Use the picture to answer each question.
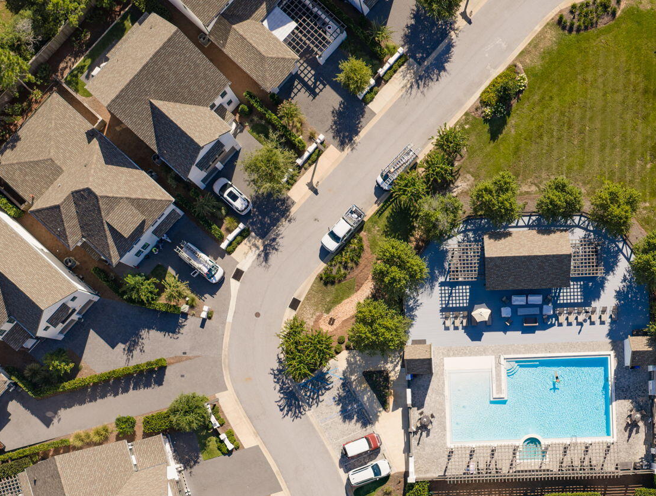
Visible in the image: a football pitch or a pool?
pool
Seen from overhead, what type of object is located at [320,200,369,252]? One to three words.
truck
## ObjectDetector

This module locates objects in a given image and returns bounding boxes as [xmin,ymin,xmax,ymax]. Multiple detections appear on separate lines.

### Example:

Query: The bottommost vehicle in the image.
[347,460,392,486]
